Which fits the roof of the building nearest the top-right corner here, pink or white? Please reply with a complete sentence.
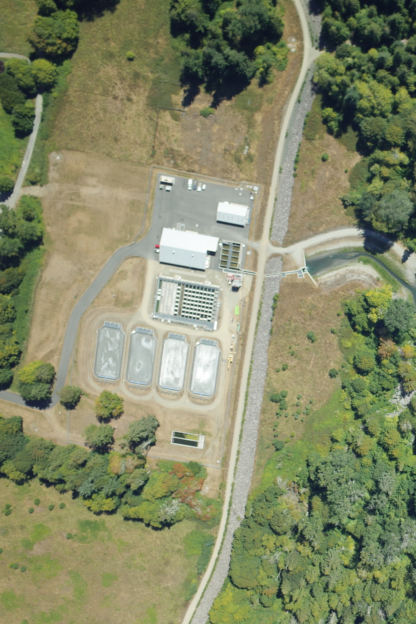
In this view, the roof of the building nearest the top-right corner is white.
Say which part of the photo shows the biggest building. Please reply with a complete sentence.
The biggest building appears toward the center of the photo.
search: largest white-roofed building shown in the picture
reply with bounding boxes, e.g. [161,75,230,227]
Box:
[159,227,219,269]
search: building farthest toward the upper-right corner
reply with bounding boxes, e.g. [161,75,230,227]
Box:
[216,202,247,226]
